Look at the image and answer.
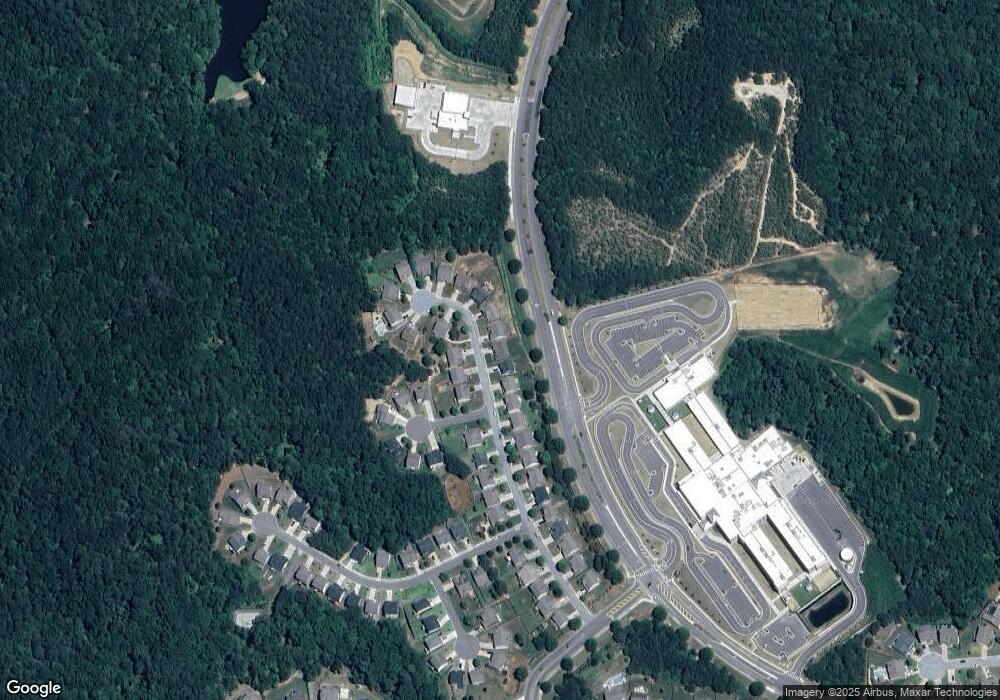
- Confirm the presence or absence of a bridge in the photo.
No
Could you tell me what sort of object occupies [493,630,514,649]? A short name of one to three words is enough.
house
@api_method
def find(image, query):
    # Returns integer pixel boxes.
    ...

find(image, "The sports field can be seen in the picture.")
[735,283,823,330]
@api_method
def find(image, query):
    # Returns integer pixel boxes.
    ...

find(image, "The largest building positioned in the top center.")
[438,91,470,141]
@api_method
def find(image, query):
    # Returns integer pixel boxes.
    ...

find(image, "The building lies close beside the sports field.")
[650,356,829,598]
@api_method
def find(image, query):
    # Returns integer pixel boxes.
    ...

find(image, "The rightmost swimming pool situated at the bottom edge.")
[873,668,889,685]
